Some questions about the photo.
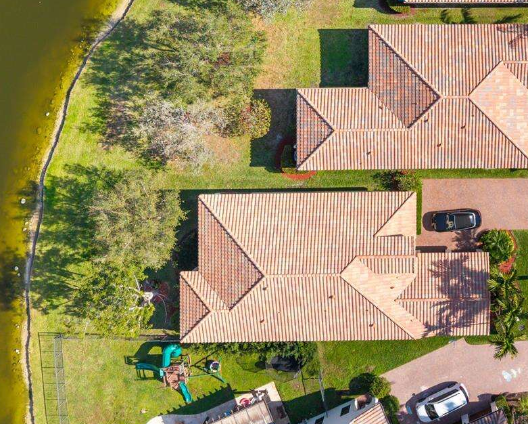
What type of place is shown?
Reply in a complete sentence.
The picture captures a residential area.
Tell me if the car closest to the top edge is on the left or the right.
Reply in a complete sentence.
It is on the right.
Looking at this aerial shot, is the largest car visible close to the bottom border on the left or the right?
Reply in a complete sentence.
It is on the right.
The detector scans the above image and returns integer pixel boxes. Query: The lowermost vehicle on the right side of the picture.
[415,379,469,419]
